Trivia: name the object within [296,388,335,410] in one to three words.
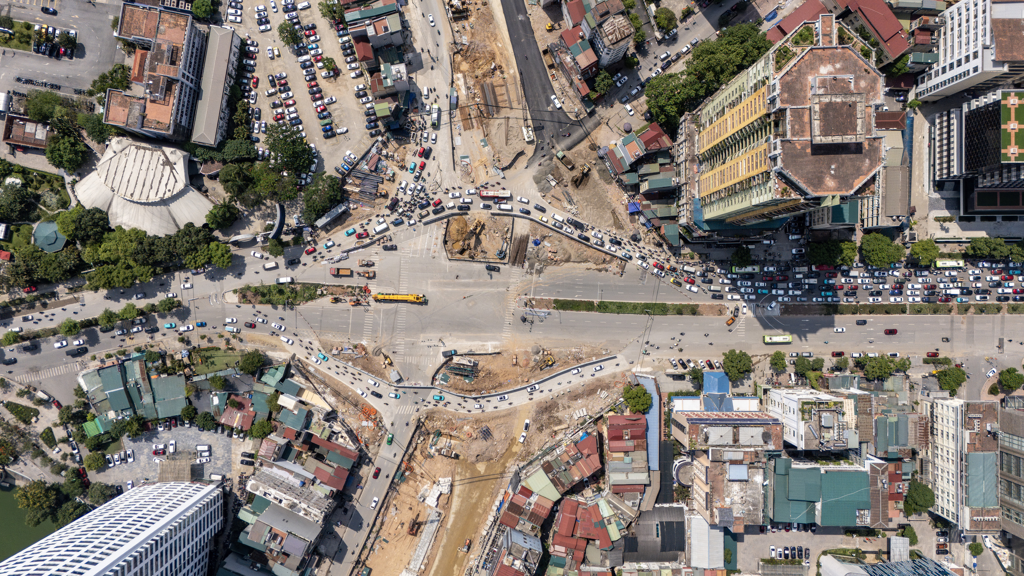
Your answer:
house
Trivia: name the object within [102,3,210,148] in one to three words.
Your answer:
building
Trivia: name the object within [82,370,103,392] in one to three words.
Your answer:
house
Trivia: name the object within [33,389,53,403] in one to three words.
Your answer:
vehicle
